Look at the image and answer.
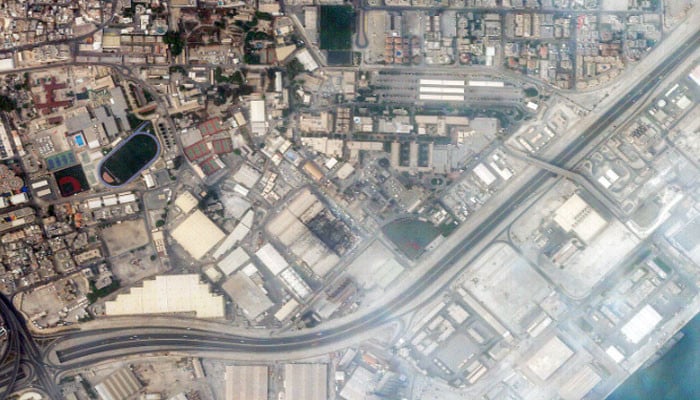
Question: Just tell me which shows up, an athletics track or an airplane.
athletics track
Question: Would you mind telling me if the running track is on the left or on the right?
left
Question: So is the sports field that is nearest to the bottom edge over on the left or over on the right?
left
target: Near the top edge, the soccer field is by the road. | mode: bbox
[320,5,355,50]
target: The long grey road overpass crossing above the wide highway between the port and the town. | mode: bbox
[501,142,643,240]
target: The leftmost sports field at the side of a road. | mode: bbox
[100,134,158,185]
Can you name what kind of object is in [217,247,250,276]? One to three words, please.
building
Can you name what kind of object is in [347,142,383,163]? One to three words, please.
building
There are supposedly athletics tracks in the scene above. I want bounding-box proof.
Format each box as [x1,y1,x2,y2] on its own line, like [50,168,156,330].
[98,120,160,187]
